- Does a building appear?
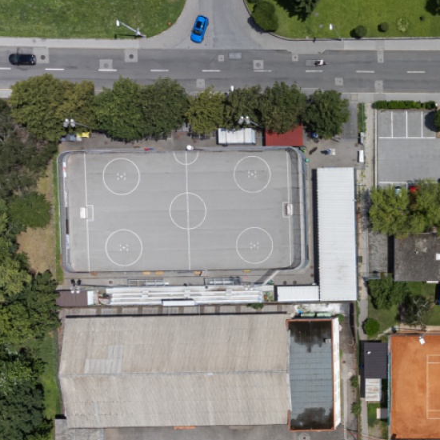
Yes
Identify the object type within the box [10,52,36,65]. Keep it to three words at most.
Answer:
vehicle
